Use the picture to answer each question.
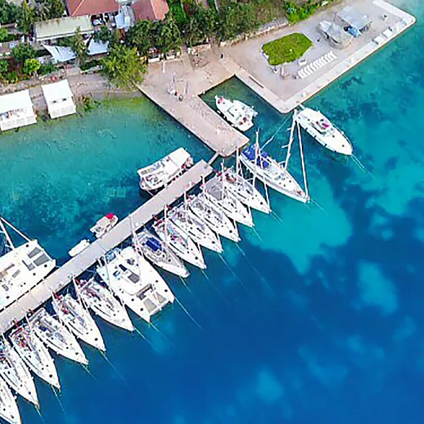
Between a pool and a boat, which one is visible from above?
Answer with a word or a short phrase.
boat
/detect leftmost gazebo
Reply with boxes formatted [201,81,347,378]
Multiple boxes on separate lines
[0,89,37,135]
